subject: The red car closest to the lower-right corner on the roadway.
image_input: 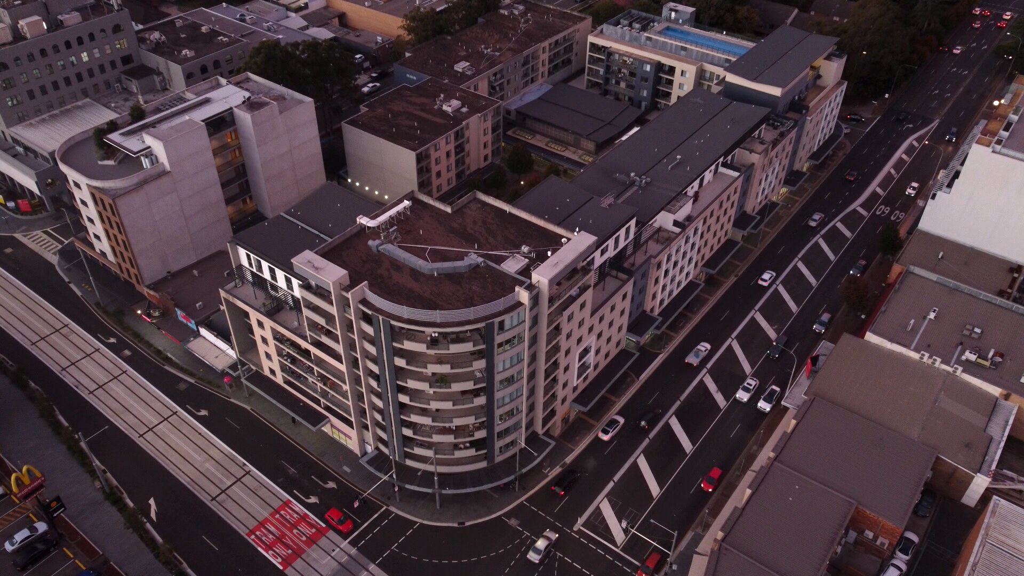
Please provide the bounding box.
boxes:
[700,465,726,495]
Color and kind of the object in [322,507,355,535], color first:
red car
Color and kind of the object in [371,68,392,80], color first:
black vehicle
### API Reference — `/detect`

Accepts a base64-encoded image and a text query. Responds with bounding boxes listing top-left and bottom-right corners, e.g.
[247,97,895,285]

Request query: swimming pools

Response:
[650,26,746,57]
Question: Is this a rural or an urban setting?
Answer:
urban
